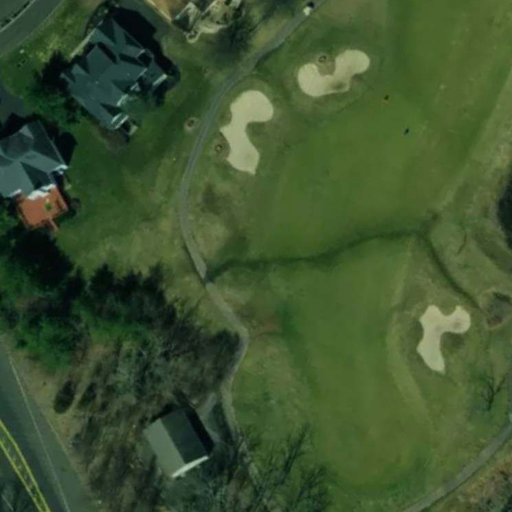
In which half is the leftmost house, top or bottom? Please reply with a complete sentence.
It is in the top half that the leftmost house appears.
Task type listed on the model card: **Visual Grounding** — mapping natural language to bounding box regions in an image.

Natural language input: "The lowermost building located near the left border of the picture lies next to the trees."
[0,117,69,230]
